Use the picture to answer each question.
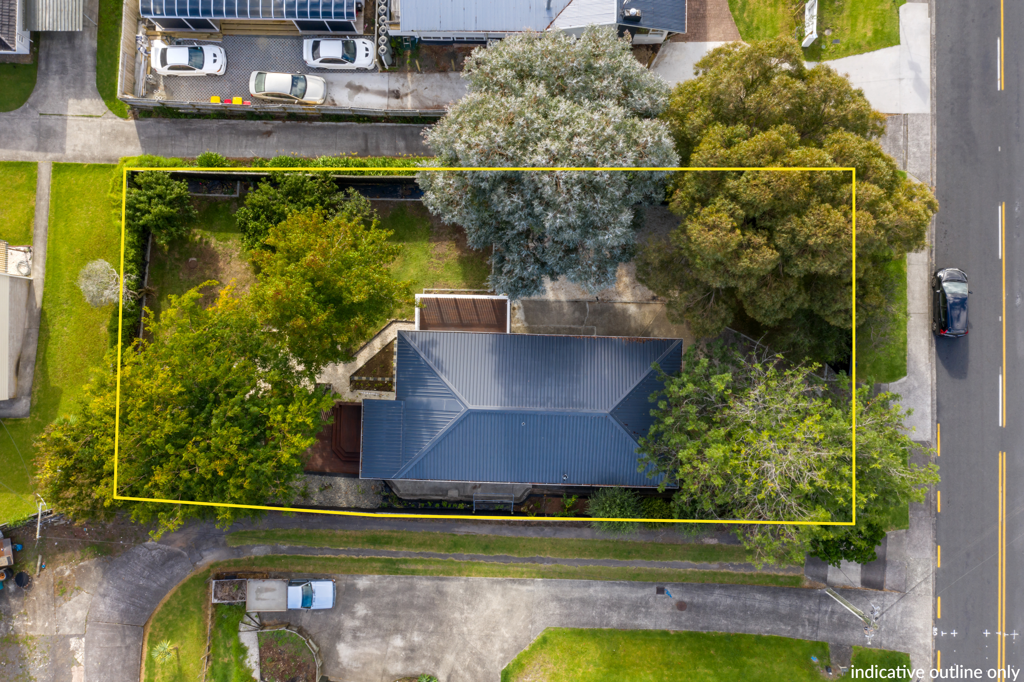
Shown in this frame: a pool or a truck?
truck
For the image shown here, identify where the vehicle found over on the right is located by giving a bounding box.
[933,267,973,339]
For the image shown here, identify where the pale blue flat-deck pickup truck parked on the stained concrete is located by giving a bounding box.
[249,579,340,614]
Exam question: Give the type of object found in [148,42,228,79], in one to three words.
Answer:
car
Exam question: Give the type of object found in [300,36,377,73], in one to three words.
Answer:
car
